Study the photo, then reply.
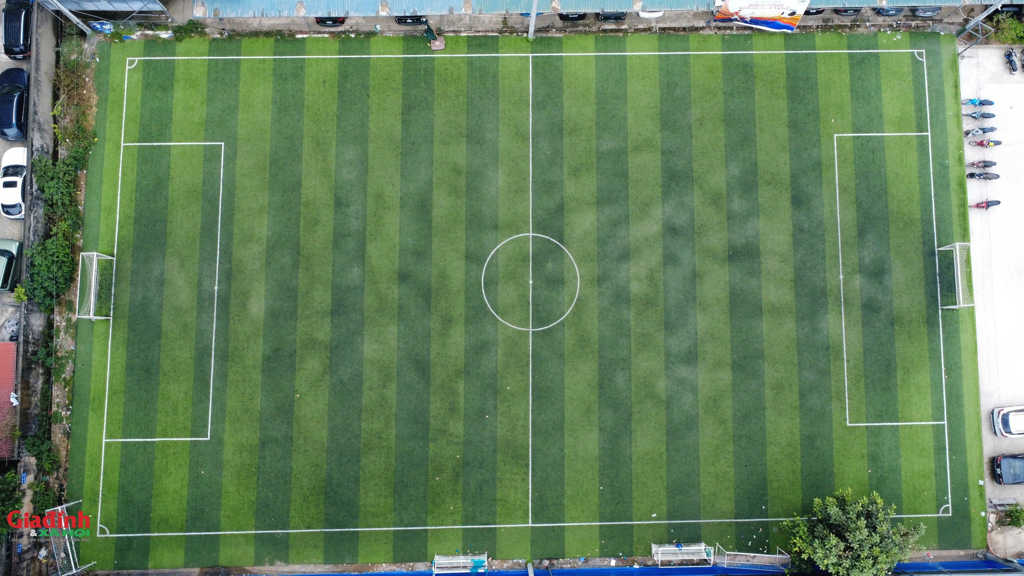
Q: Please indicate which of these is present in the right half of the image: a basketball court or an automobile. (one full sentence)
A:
What appears in the right half of the image is an automobile.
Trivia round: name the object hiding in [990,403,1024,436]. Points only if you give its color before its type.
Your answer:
white car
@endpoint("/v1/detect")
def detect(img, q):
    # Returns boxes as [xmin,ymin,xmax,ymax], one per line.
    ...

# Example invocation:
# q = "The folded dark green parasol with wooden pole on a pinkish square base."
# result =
[422,12,445,50]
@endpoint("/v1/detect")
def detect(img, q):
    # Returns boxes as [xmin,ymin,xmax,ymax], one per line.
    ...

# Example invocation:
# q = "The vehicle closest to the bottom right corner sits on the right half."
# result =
[991,452,1024,484]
